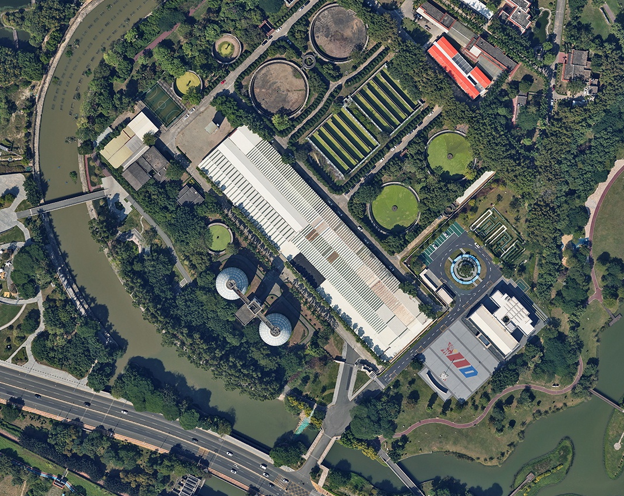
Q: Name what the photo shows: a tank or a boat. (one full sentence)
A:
Visible in the photo is a tank.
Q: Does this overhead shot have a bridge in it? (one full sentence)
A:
Yes, the image includes a bridge.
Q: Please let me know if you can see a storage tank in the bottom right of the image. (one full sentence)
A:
No, I see no storage tank in the bottom right of the image.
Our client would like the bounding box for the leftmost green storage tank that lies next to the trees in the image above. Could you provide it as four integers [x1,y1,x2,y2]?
[206,223,235,251]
